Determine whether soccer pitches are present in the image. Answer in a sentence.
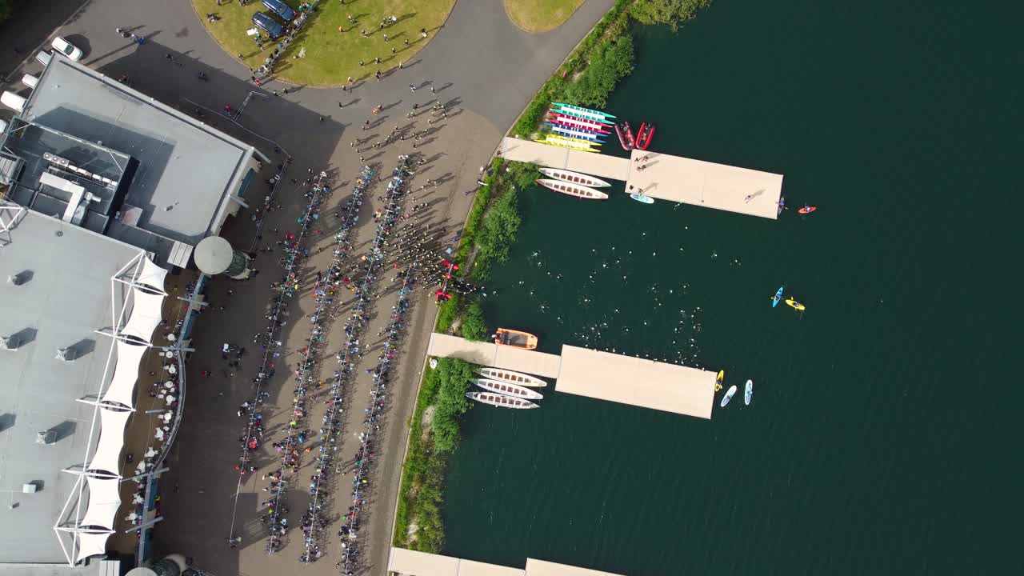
No, I find no soccer pitch anywhere in the image.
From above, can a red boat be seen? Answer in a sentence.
Yes, the photo shows a red boat.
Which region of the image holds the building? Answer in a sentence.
Look in the left portion of the view to spot the building.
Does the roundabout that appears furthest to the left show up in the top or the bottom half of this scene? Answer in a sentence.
Seen from above, the roundabout that appears furthest to the left lies in the top half of the view.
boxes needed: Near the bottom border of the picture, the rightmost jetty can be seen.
[387,547,632,576]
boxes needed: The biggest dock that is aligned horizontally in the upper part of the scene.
[498,135,784,219]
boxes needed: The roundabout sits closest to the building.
[190,0,457,88]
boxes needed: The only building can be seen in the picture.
[0,47,279,576]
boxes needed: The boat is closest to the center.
[492,329,539,348]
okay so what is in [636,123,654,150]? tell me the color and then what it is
red boat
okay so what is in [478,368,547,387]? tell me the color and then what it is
white boat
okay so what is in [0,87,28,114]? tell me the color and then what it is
white car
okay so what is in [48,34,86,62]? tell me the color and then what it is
white car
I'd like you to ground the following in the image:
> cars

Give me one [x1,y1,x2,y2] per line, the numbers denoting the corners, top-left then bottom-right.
[0,87,28,114]
[18,71,39,90]
[48,34,86,62]
[259,0,297,22]
[248,7,286,40]
[32,48,50,67]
